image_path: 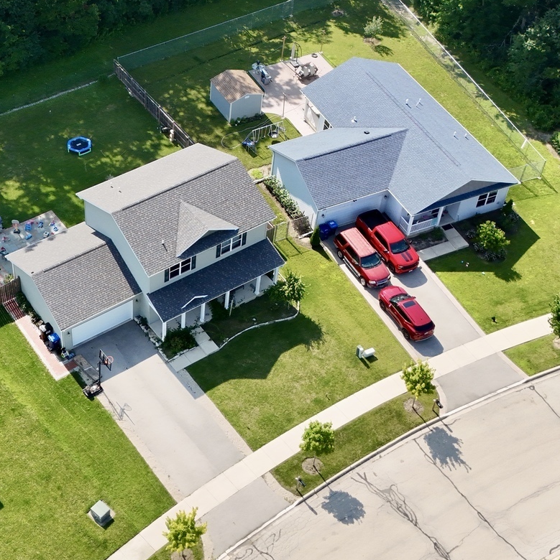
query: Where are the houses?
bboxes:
[6,143,286,350]
[268,57,521,238]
